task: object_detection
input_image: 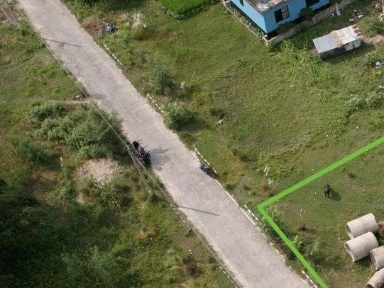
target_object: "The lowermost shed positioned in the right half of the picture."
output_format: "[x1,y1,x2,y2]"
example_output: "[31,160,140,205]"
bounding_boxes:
[313,24,362,59]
